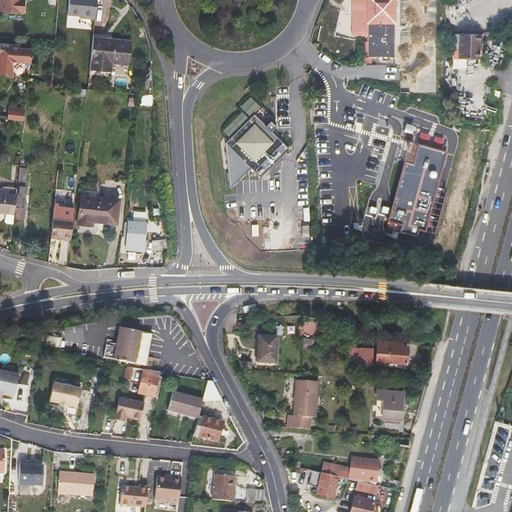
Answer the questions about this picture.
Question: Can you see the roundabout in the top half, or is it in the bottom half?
top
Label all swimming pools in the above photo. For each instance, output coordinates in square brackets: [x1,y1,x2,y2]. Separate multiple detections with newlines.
[114,77,128,87]
[0,353,11,364]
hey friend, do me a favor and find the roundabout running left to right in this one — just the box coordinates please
[152,0,324,78]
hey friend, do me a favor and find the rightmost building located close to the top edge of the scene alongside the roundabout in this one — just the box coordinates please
[352,0,398,64]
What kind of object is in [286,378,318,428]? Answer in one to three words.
house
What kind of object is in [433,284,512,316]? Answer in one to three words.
bridge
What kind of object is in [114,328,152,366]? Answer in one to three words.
building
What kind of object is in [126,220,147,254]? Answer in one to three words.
building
